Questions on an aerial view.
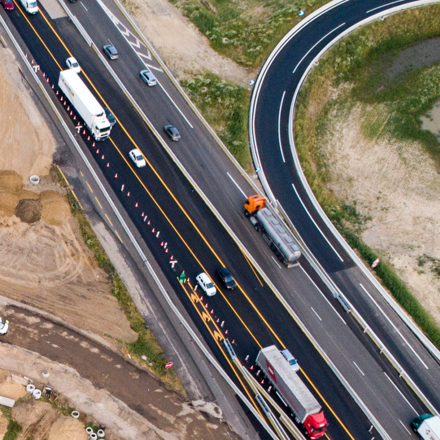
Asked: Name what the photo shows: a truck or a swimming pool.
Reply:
truck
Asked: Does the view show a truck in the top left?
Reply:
Yes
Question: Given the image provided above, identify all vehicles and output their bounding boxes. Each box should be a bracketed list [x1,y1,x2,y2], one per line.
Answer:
[103,106,118,128]
[162,125,183,144]
[0,315,10,335]
[280,347,302,374]
[16,0,37,18]
[247,195,303,266]
[0,0,14,11]
[194,273,217,299]
[64,56,82,74]
[128,150,147,170]
[58,67,113,143]
[139,71,159,89]
[102,45,120,63]
[216,269,238,293]
[407,408,440,440]
[255,345,330,440]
